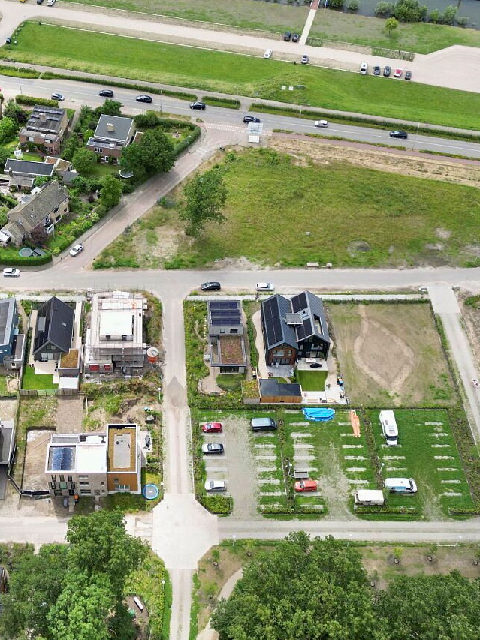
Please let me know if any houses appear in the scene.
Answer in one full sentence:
Yes, I can see a house in this picture.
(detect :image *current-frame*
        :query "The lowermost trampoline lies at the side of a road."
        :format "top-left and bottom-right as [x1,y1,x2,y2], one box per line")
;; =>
[143,483,161,501]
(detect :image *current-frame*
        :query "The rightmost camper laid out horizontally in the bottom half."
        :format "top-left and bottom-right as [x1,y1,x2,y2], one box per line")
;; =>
[383,477,417,493]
